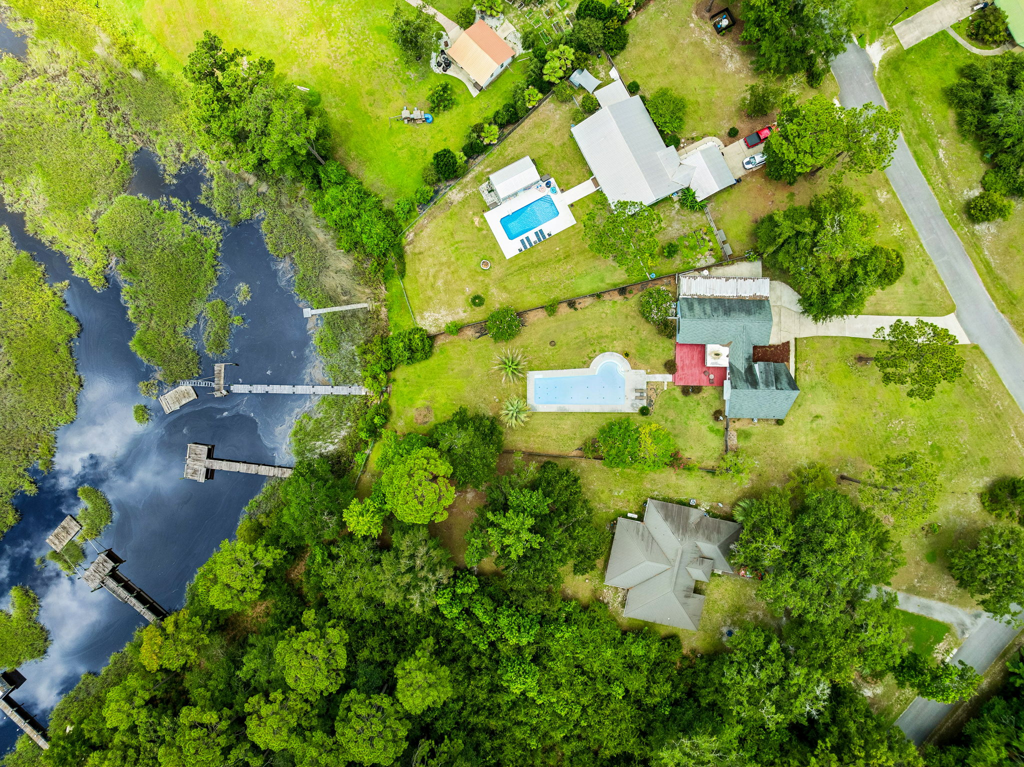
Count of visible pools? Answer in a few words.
2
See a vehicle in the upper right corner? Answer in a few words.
Yes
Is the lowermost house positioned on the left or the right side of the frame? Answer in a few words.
right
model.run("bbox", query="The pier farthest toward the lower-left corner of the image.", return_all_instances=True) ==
[0,671,44,749]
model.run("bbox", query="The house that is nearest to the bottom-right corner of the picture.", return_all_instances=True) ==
[604,498,743,632]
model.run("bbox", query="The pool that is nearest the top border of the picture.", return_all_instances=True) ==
[484,178,593,259]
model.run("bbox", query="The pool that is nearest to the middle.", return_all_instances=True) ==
[527,353,646,412]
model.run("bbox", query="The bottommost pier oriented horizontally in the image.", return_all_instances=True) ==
[184,443,286,483]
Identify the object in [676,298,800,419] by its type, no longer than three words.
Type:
house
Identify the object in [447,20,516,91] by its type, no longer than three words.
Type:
house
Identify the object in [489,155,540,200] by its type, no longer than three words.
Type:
building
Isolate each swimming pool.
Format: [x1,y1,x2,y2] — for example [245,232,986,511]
[527,353,646,412]
[484,178,593,259]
